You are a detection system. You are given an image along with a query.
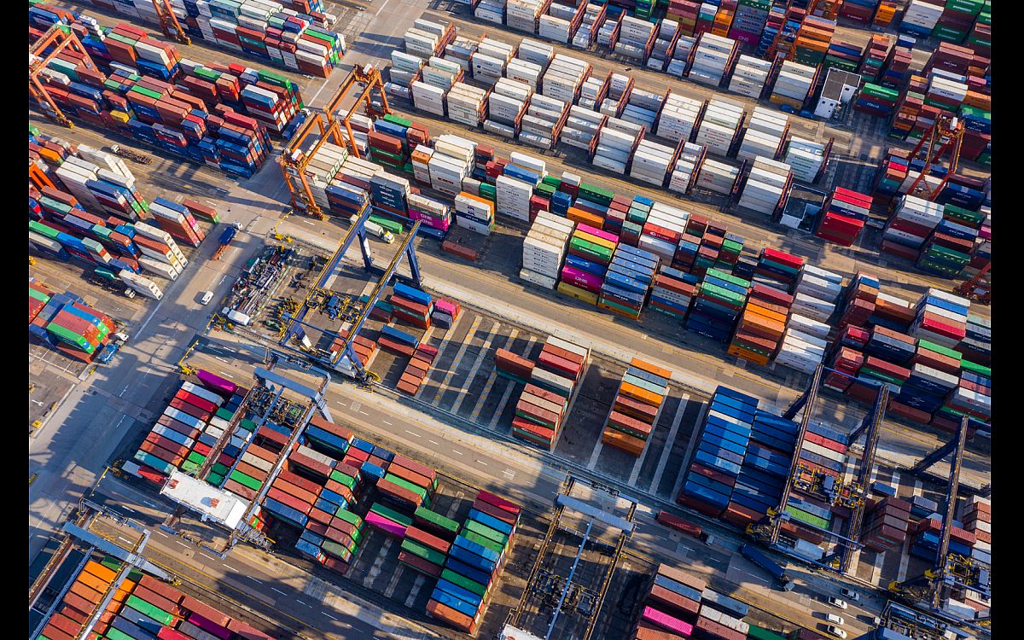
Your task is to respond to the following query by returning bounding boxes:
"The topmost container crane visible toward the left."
[147,0,193,45]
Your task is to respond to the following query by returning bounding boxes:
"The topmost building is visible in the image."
[813,67,862,119]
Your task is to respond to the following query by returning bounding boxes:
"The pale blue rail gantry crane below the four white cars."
[838,600,982,640]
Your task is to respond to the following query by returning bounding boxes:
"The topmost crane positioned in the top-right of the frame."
[762,0,822,60]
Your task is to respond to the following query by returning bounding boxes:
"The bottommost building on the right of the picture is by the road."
[780,181,827,229]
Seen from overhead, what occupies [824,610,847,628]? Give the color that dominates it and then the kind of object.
white vehicle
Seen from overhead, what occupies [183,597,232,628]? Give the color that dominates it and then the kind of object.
red shipping container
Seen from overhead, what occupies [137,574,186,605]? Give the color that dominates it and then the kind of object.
red shipping container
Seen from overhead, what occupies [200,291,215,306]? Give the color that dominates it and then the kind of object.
white vehicle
